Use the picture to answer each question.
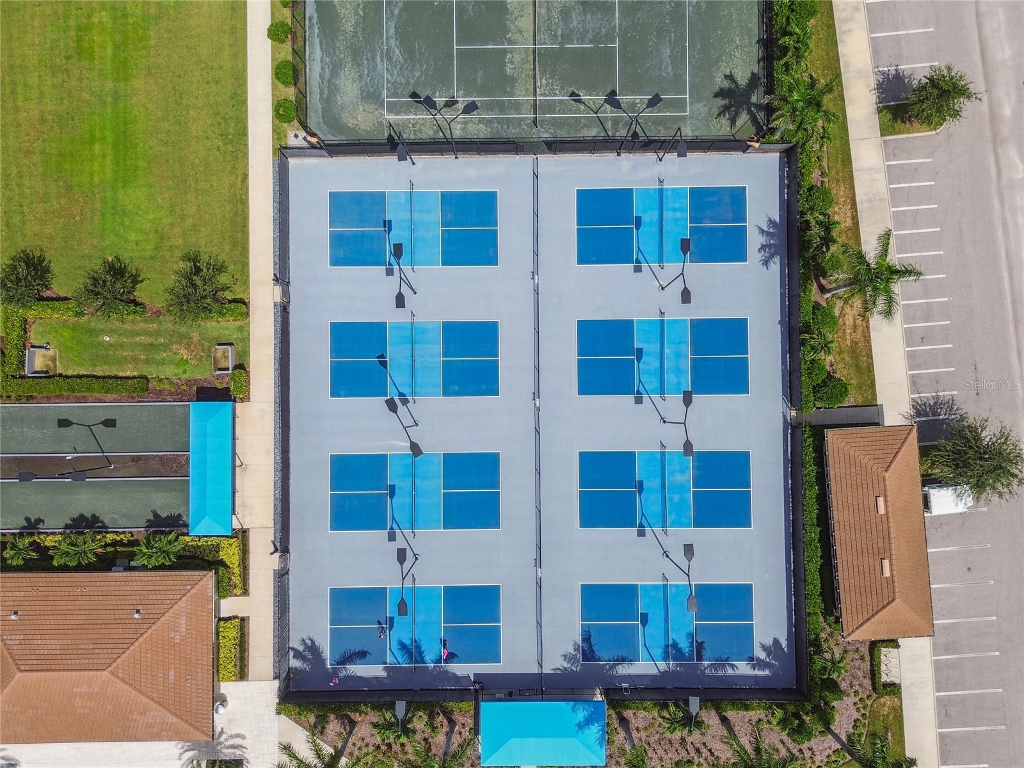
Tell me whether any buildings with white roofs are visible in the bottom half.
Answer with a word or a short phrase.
No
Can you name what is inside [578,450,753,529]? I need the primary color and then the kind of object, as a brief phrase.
blue sports court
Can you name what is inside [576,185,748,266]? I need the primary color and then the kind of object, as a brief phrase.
blue sports court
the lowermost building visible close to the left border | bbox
[0,569,220,744]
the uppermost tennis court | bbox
[306,0,759,157]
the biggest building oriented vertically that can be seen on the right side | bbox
[825,423,934,642]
